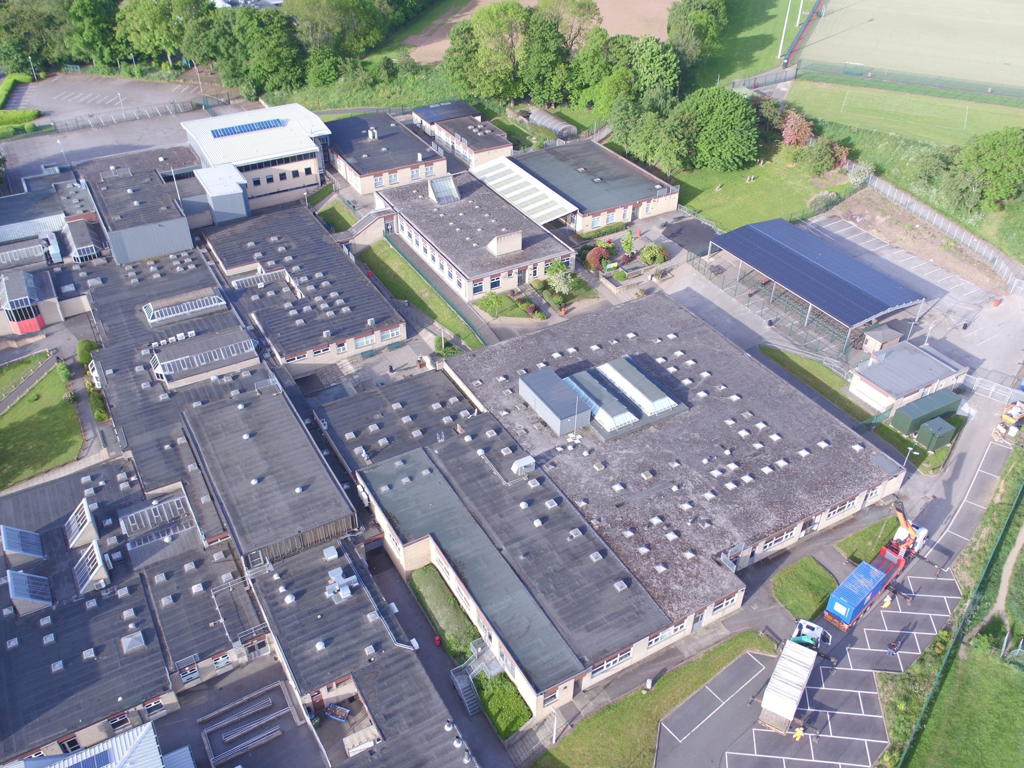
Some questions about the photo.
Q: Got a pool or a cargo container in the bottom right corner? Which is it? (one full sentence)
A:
What appears in the bottom right corner is a cargo container.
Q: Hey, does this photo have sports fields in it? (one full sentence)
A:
Yes, there is a sports field in the image.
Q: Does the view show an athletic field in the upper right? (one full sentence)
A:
Yes, an athletic field is visible in the upper right.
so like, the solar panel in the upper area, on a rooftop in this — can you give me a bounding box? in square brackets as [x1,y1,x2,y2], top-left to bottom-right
[212,120,284,138]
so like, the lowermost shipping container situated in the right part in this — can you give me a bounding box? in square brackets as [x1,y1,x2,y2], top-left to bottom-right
[761,640,817,720]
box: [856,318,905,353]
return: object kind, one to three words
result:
shed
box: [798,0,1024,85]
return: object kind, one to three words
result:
sports field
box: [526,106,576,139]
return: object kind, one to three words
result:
greenhouse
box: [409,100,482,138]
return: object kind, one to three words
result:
building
